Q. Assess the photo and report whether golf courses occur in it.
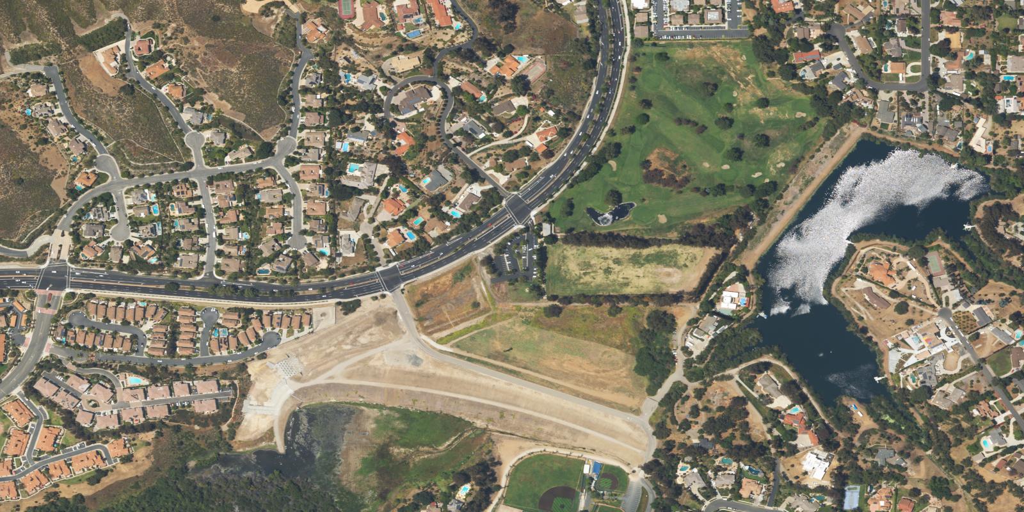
Yes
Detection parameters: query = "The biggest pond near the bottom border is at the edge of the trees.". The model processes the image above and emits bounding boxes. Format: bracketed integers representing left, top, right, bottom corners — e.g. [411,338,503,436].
[222,405,359,491]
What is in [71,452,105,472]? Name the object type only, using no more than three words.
house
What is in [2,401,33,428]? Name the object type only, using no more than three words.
house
